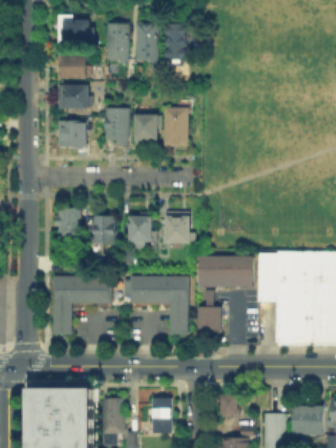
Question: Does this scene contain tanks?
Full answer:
No, there's no tank here.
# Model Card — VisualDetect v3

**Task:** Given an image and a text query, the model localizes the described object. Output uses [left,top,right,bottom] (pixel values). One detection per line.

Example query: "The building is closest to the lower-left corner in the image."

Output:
[22,388,95,448]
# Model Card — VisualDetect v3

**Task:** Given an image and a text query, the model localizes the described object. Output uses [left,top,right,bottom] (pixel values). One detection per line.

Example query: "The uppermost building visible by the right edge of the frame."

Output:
[260,251,336,346]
